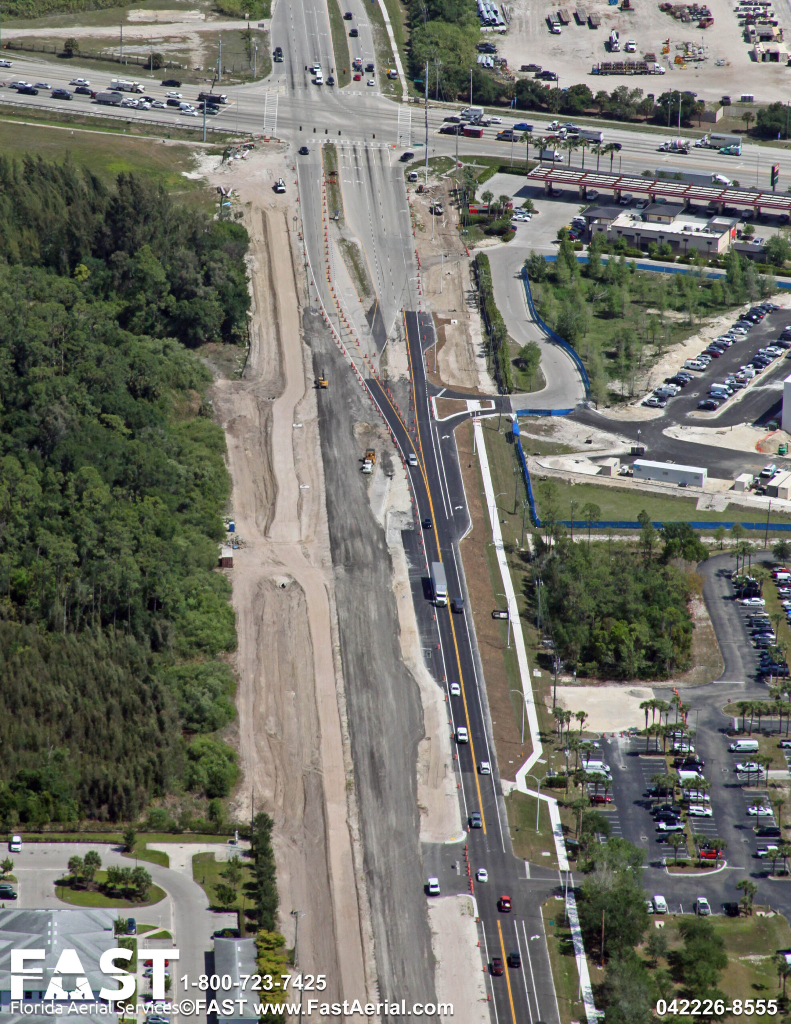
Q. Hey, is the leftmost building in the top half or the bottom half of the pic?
bottom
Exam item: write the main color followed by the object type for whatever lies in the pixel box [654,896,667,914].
white vehicle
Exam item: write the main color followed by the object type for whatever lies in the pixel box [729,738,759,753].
white vehicle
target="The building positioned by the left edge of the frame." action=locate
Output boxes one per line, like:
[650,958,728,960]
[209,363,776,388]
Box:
[0,908,122,1024]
